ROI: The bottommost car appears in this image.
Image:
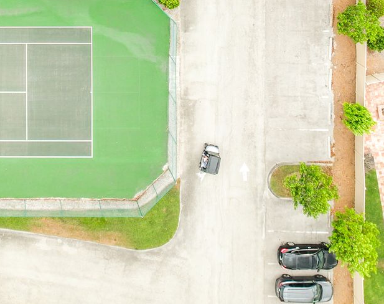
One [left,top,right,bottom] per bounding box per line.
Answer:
[277,272,334,304]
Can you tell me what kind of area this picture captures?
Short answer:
sports ground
